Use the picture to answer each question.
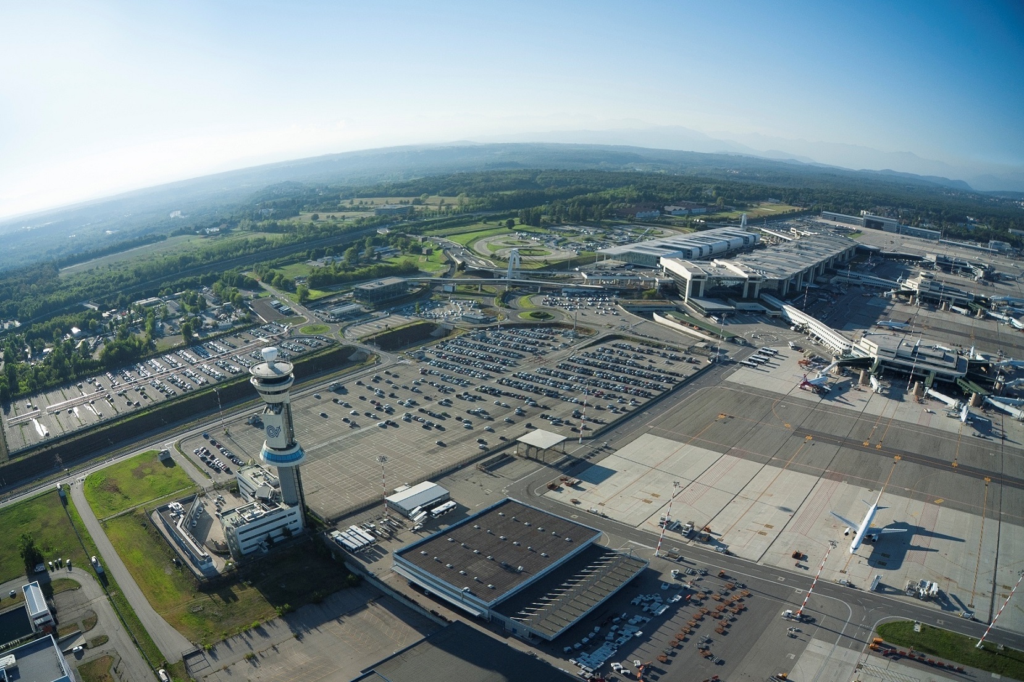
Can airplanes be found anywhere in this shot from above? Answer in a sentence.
Yes, there's an airplane down there.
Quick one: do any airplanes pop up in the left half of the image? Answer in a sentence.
No, no airplane can be made out in the left half of the image.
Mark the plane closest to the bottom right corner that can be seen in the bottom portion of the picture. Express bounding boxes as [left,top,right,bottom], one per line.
[833,481,905,552]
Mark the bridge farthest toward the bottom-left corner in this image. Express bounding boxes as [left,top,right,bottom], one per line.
[332,336,409,366]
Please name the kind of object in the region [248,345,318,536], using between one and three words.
building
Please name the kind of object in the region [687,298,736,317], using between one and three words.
building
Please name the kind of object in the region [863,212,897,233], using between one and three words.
hangar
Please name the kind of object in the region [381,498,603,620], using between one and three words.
warehouse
